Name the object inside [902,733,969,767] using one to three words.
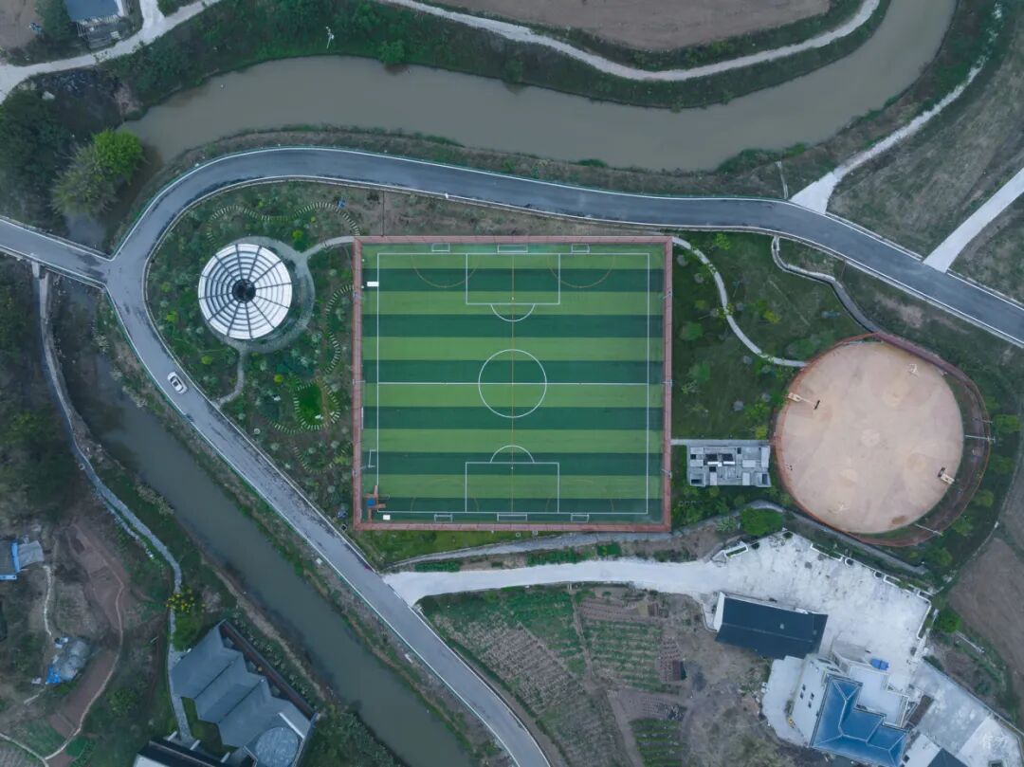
house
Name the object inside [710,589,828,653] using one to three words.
barn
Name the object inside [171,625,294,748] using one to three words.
house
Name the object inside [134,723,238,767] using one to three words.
building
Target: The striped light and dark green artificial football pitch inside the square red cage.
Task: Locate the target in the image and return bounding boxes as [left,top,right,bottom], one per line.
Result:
[360,241,663,525]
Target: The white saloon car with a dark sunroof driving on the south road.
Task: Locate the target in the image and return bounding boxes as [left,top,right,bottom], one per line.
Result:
[168,372,187,394]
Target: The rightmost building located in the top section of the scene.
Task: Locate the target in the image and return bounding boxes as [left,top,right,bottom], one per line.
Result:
[199,243,299,337]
